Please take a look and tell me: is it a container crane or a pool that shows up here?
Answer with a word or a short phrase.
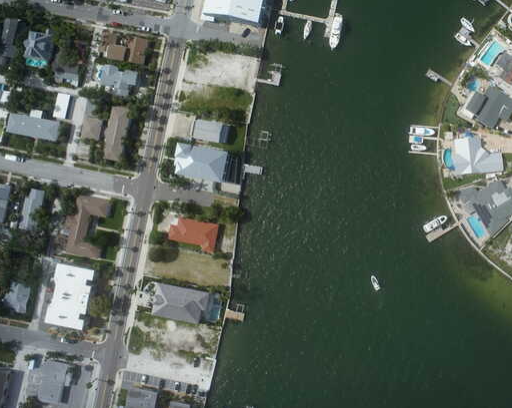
pool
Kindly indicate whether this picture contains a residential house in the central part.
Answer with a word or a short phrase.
Yes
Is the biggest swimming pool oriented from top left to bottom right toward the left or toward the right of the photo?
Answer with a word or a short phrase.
right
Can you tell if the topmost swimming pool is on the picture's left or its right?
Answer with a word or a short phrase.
right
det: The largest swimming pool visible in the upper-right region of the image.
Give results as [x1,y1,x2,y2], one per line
[479,39,506,66]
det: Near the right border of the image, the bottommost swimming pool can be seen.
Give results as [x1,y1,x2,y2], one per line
[466,215,487,239]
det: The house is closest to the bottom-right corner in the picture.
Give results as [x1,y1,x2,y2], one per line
[461,179,512,238]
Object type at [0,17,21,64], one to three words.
house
